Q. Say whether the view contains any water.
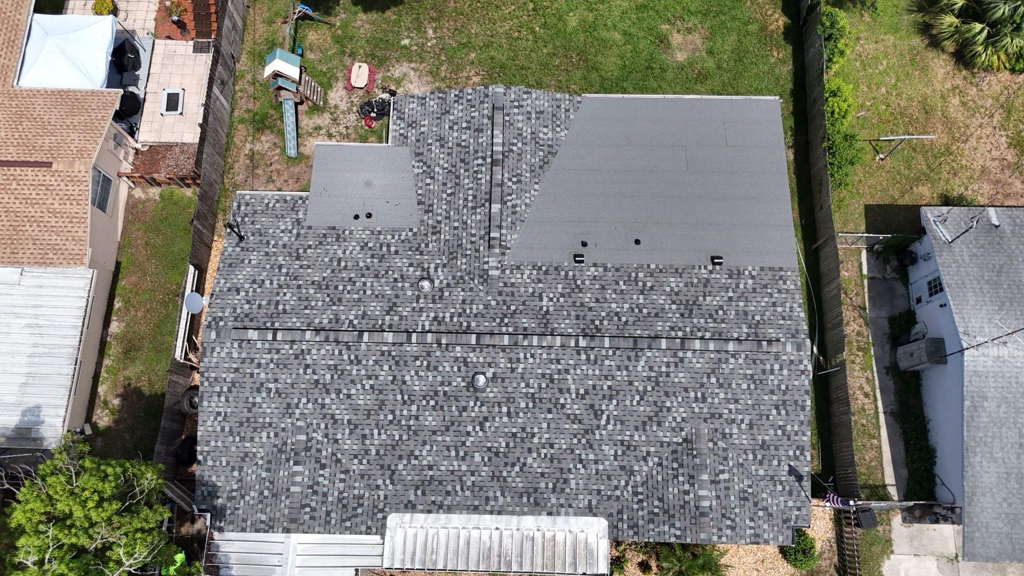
No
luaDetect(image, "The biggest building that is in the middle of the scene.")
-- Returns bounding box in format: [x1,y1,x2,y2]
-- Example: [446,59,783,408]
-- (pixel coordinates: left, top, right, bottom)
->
[193,86,814,549]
